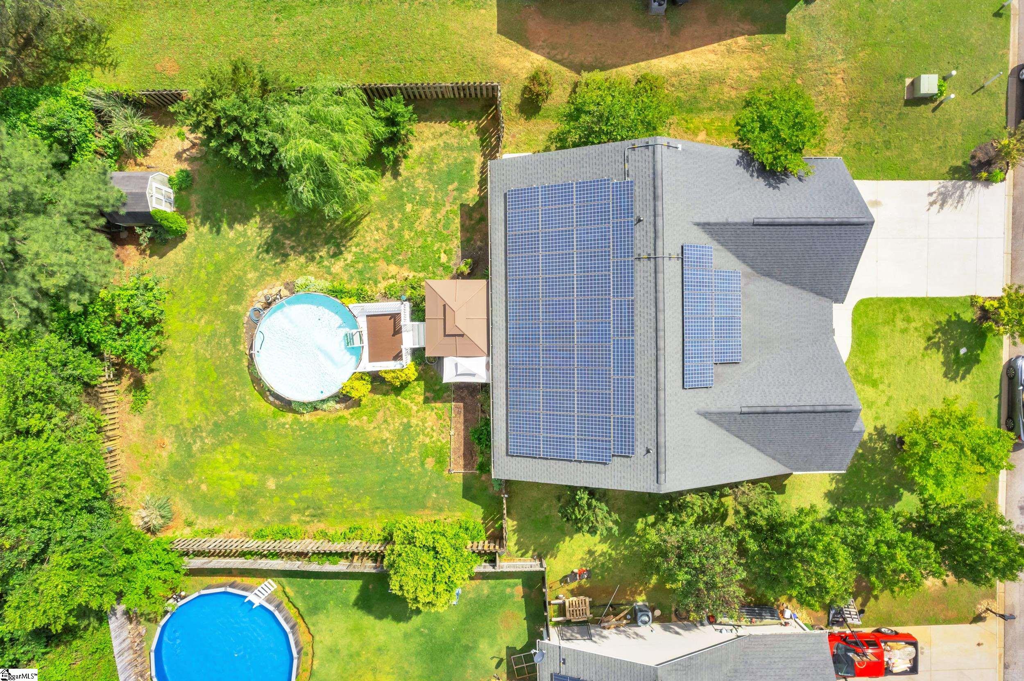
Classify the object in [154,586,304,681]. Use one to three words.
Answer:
swimming pool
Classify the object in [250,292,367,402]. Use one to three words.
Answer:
swimming pool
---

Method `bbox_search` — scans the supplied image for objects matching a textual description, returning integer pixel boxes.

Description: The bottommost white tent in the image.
[443,357,486,382]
